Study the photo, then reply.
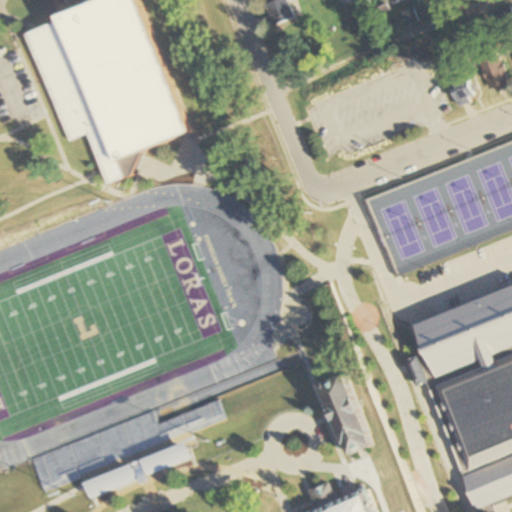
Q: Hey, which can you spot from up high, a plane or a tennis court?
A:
tennis court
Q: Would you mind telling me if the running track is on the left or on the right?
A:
left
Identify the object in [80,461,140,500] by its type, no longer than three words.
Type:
building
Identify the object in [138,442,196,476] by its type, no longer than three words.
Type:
building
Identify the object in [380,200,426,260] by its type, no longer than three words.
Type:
tennis court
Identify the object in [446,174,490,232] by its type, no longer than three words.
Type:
tennis court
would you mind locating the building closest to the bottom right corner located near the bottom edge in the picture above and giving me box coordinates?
[458,450,512,501]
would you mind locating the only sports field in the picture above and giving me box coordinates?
[0,206,236,442]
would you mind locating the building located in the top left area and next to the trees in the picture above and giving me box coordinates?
[24,0,188,184]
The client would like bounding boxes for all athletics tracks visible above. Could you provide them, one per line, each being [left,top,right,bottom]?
[0,184,282,470]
